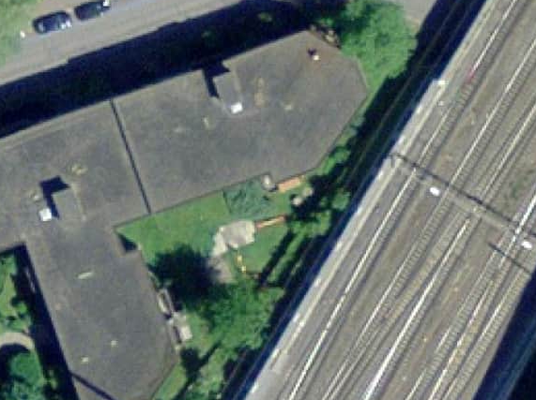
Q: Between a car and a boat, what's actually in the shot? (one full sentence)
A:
Looking from above, you can make out a car.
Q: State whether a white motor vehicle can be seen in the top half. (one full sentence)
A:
No, the scene shows no white motor vehicle in the top half.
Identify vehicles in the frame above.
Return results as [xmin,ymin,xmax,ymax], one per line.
[33,9,73,35]
[75,0,112,21]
